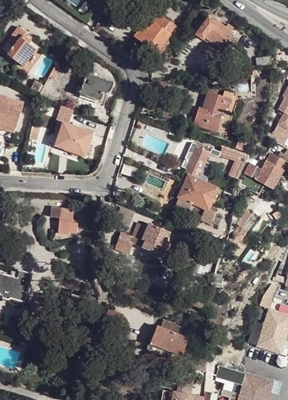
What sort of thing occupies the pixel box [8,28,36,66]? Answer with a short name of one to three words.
house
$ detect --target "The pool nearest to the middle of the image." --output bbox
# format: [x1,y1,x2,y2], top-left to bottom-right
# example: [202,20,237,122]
[146,175,166,190]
